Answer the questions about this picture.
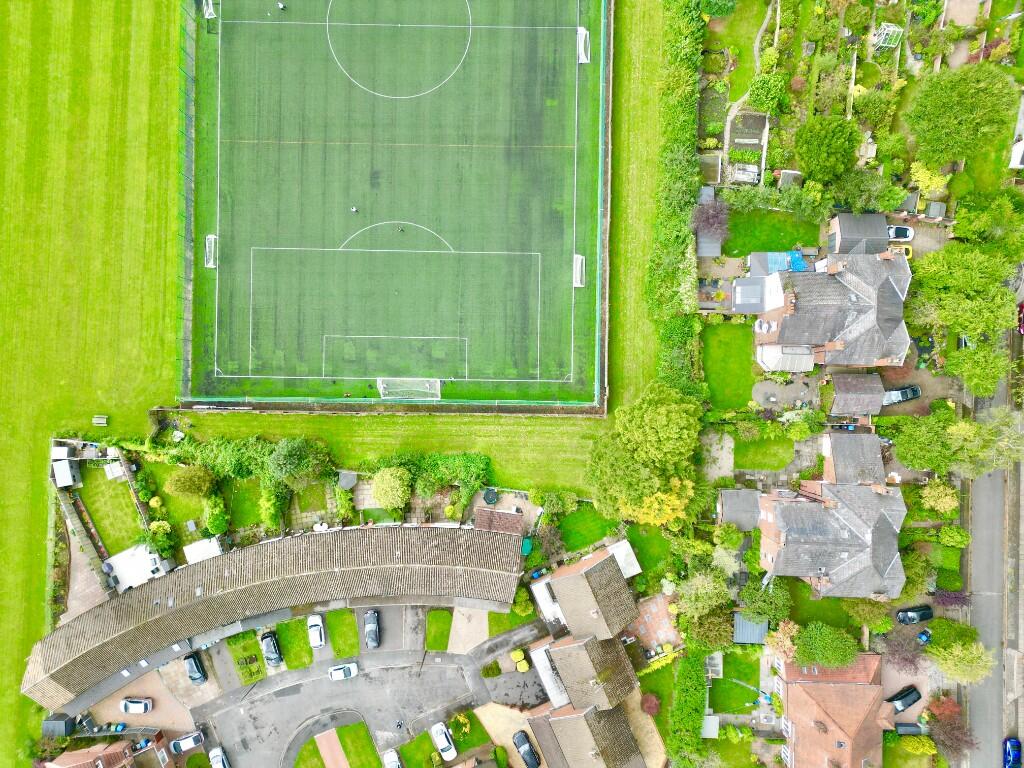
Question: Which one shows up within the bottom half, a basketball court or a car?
car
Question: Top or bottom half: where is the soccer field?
top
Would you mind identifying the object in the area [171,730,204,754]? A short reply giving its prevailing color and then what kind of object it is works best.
white car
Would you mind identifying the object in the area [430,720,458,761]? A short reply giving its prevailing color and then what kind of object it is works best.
white car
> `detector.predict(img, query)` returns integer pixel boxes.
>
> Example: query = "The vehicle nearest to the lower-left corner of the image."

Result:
[123,696,155,715]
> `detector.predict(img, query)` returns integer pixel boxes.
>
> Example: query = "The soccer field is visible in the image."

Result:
[180,0,610,416]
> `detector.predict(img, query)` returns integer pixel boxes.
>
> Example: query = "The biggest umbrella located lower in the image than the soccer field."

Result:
[482,488,498,504]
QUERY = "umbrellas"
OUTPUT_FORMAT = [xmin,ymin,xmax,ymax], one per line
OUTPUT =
[104,561,117,573]
[482,488,498,504]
